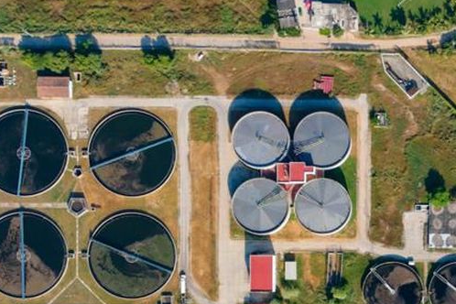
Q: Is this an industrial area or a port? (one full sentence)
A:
The area seen from above is an industrial area.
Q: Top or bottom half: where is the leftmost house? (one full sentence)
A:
The leftmost house sits in the top half of the picture.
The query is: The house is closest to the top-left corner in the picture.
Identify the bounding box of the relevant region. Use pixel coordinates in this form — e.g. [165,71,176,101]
[36,77,72,99]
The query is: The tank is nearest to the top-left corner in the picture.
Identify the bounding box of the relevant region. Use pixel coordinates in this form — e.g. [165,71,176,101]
[0,105,70,198]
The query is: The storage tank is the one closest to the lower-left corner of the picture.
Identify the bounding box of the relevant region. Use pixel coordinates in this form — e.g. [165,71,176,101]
[0,209,69,300]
